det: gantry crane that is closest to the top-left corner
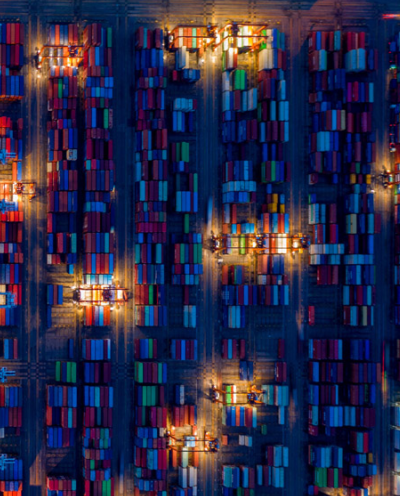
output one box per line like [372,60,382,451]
[35,44,86,70]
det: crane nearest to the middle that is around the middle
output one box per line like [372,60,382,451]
[212,235,271,253]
